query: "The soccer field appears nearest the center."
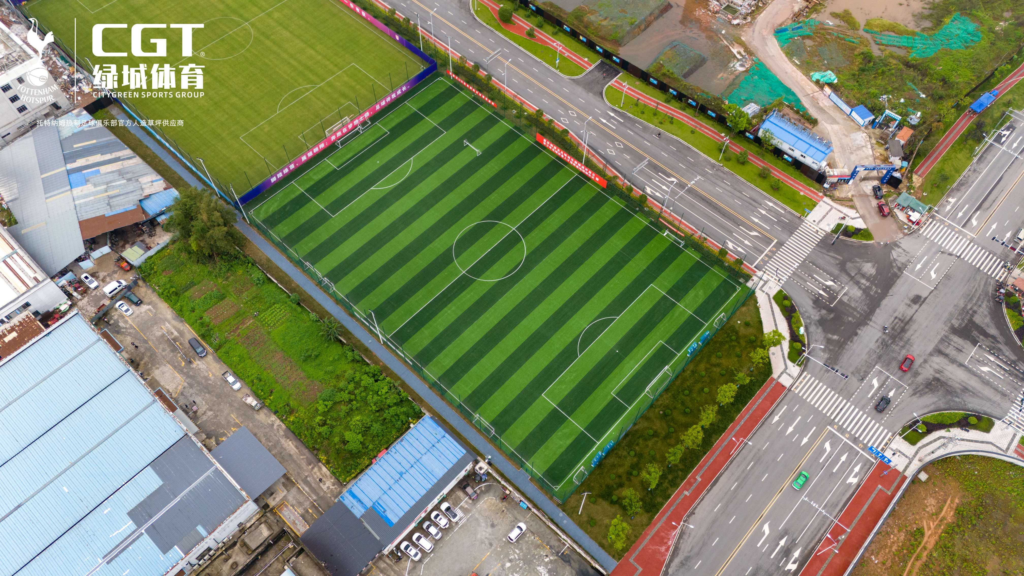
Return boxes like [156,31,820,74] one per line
[237,67,754,502]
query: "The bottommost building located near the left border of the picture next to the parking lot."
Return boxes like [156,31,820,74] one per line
[0,308,255,576]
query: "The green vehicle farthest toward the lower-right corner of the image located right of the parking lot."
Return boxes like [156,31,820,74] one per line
[792,471,809,492]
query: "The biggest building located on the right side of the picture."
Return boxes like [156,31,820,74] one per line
[758,110,833,169]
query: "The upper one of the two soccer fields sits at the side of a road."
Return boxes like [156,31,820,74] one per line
[17,0,430,204]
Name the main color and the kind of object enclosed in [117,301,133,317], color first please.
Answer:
white car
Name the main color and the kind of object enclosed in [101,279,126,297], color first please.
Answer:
white vehicle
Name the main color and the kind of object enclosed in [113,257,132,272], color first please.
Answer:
red vehicle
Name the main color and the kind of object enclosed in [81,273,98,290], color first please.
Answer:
white car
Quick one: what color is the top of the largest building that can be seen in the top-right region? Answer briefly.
blue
